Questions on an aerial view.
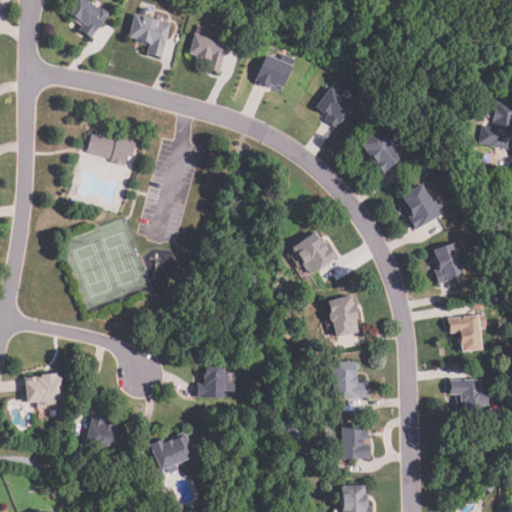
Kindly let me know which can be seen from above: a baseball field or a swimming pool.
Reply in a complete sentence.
Visible in the photo is a swimming pool.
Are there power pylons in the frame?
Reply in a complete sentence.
No, there's no power pylon here.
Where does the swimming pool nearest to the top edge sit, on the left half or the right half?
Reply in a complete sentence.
The swimming pool nearest to the top edge is on the left side of the image.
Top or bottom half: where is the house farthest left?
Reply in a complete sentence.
Seen from above, the house farthest left lies in the bottom half of the view.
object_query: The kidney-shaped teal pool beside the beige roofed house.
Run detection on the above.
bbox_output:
[7,398,34,430]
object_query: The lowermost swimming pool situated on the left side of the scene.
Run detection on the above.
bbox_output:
[164,469,196,507]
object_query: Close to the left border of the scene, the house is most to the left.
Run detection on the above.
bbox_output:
[25,374,62,410]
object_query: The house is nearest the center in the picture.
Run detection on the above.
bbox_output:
[292,231,338,272]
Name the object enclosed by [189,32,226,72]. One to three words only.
house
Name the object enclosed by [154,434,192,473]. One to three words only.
house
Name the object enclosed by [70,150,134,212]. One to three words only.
swimming pool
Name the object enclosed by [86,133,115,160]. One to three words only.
building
